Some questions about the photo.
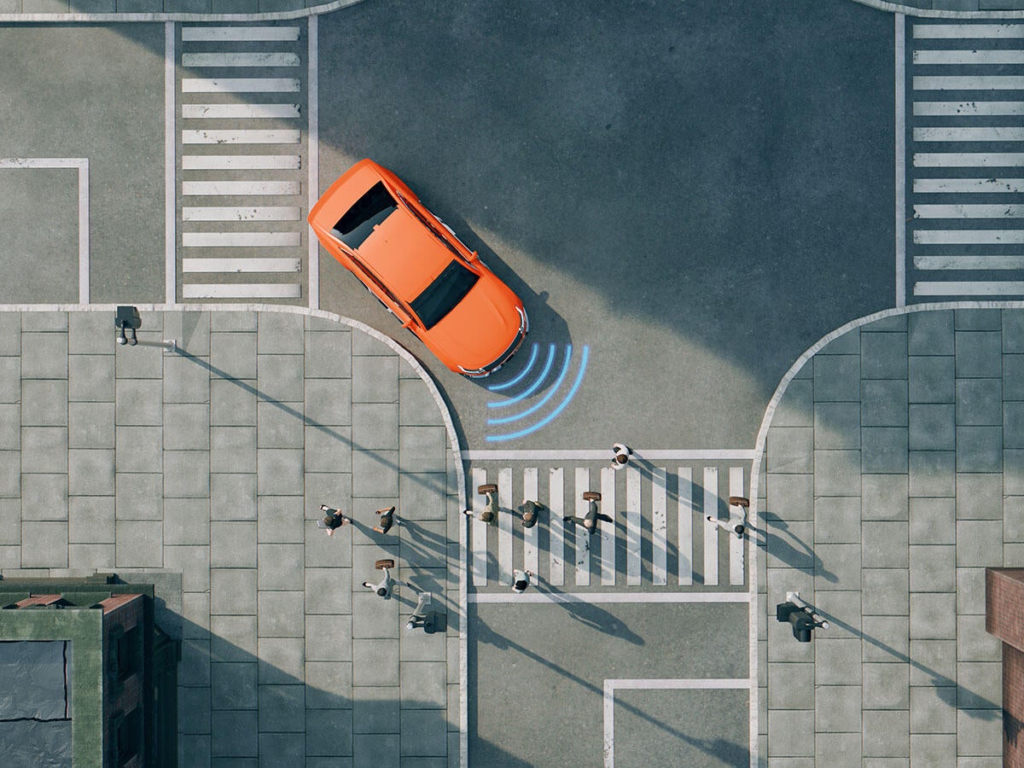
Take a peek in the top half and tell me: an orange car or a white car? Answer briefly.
orange car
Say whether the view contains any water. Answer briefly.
No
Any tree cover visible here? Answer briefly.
No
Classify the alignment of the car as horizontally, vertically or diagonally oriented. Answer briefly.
diagonally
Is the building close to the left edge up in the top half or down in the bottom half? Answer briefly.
bottom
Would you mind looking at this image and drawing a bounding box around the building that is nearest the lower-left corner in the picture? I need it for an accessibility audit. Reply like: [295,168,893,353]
[0,570,178,768]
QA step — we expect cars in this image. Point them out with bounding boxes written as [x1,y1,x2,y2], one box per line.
[308,157,534,380]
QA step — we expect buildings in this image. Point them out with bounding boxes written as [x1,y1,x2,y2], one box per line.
[986,630,1024,768]
[0,570,178,768]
